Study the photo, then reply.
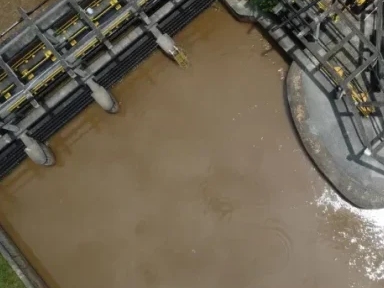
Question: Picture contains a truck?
No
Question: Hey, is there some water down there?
Yes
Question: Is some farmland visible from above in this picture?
No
